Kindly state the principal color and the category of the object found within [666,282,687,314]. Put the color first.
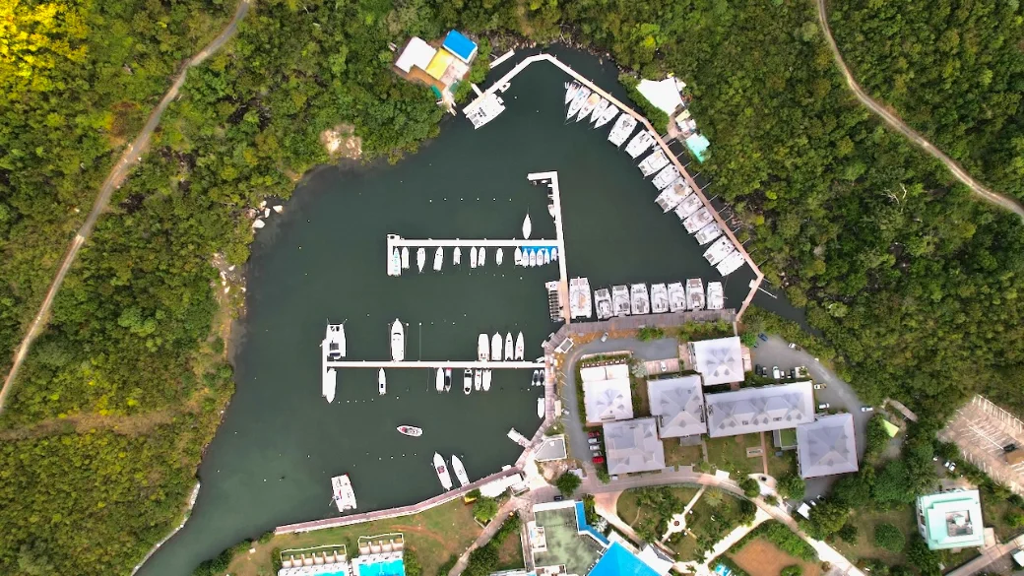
white boat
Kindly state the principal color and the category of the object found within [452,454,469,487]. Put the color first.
white boat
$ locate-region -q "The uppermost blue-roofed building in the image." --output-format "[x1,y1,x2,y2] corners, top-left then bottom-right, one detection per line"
[443,30,477,63]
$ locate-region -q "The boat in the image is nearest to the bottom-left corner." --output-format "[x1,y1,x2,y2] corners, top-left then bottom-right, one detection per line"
[331,473,359,513]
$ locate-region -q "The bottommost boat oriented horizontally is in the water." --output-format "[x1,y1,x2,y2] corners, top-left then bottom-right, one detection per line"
[397,425,425,437]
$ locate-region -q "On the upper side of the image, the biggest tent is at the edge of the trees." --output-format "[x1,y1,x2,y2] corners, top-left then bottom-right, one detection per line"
[635,77,684,118]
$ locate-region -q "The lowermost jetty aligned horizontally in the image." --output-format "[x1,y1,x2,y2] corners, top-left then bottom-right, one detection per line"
[320,339,545,396]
